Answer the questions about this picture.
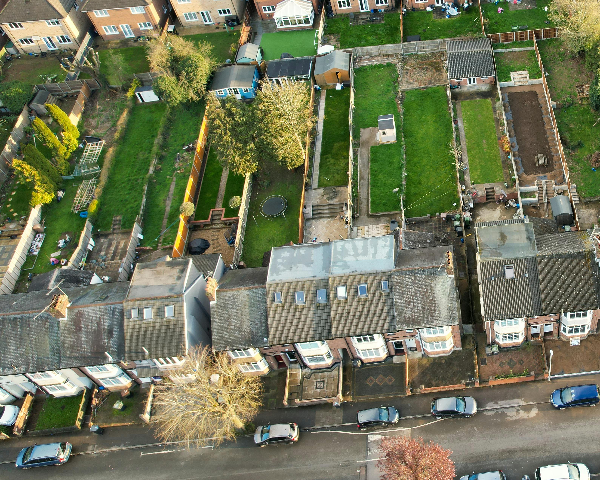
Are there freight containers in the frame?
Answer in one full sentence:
No, the photo shows no freight container.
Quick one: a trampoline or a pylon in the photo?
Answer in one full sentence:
There is a trampoline in the scene.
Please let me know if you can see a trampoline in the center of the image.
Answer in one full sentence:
Yes, the scene does show a trampoline in the center of the image.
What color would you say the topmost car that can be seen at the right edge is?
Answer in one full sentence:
From above, the topmost car that can be seen at the right edge appears blue.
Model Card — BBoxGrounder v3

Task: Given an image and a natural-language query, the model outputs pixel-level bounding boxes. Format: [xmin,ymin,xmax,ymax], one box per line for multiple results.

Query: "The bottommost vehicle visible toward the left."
[13,442,78,473]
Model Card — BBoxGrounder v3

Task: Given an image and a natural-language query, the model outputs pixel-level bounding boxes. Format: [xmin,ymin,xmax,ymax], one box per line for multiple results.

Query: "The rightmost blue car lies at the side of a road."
[550,384,600,413]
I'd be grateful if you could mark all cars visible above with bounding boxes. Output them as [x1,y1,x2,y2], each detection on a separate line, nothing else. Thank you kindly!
[356,404,400,434]
[13,442,78,473]
[533,461,591,480]
[550,384,600,413]
[431,393,478,424]
[0,403,19,428]
[458,471,507,480]
[252,423,302,451]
